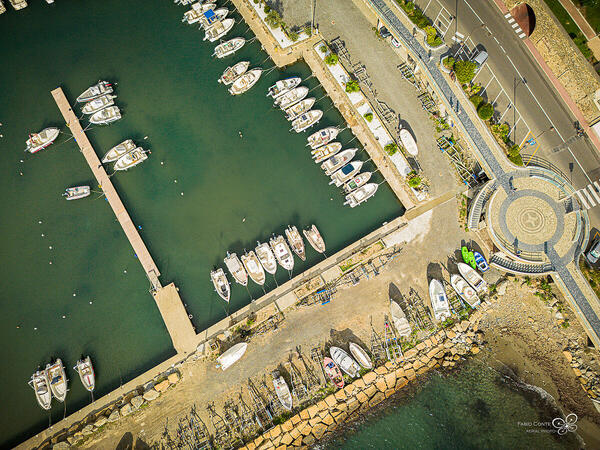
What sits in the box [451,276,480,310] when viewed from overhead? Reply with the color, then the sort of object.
white boat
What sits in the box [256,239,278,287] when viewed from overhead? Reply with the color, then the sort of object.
white boat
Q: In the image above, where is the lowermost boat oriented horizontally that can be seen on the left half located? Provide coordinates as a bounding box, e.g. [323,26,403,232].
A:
[62,186,103,200]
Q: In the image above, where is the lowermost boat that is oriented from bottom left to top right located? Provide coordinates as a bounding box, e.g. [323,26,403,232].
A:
[216,343,247,368]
